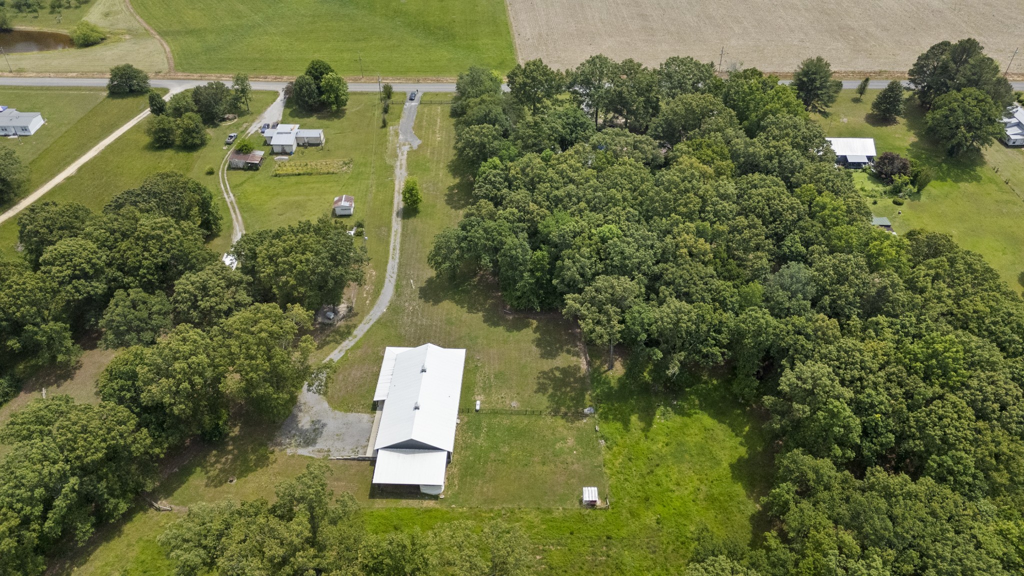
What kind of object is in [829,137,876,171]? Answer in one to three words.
house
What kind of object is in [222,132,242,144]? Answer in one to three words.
vehicle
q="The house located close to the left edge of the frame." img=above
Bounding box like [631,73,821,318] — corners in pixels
[0,104,45,138]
